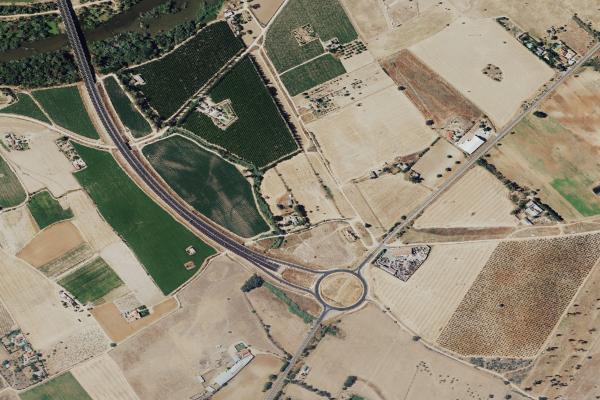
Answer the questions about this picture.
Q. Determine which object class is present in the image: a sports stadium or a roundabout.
roundabout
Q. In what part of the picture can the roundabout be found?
bottom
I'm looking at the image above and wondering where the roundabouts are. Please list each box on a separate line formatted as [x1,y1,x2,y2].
[312,266,371,326]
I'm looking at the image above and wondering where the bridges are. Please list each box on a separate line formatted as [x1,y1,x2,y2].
[56,0,94,86]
